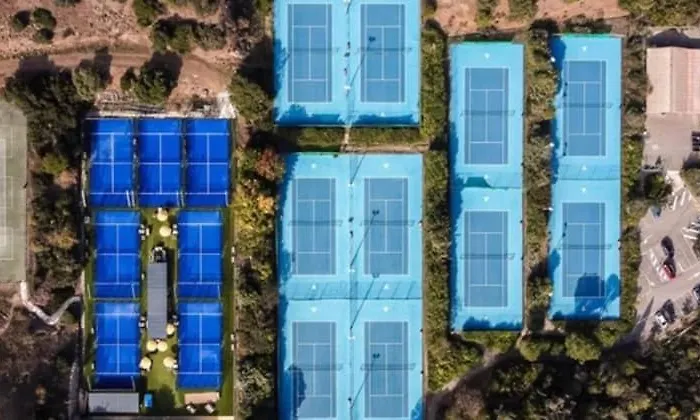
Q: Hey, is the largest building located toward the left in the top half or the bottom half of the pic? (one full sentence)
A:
The largest building located toward the left sits in the bottom half of the picture.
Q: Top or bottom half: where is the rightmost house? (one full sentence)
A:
You can find the rightmost house in the top half.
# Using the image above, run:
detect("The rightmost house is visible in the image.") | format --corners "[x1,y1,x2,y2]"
[643,46,700,116]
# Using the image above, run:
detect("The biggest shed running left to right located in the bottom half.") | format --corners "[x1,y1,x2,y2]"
[88,390,143,412]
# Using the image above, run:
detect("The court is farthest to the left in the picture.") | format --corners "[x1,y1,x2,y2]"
[0,103,27,283]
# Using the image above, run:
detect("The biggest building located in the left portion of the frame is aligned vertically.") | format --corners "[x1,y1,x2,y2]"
[147,263,170,339]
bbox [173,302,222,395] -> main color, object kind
blue sports court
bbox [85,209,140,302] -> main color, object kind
blue sports court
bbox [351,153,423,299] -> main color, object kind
blue tennis court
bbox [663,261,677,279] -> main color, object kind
red car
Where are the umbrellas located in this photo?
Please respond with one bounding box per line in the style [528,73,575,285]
[164,356,176,367]
[160,225,172,237]
[167,323,176,334]
[157,210,168,221]
[158,340,169,351]
[147,340,158,352]
[141,356,152,367]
